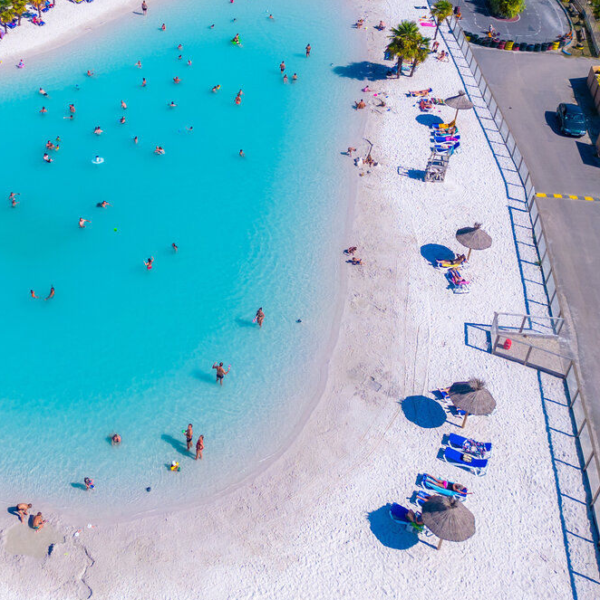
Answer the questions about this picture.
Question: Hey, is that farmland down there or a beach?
beach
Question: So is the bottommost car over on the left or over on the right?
right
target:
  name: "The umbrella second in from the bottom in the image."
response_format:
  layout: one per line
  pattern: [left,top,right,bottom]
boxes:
[443,377,498,429]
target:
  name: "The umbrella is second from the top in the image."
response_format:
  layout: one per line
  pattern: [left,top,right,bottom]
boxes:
[452,218,495,251]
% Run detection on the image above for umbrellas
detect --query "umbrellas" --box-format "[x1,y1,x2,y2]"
[419,496,481,552]
[443,377,498,429]
[452,218,495,251]
[445,87,478,115]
